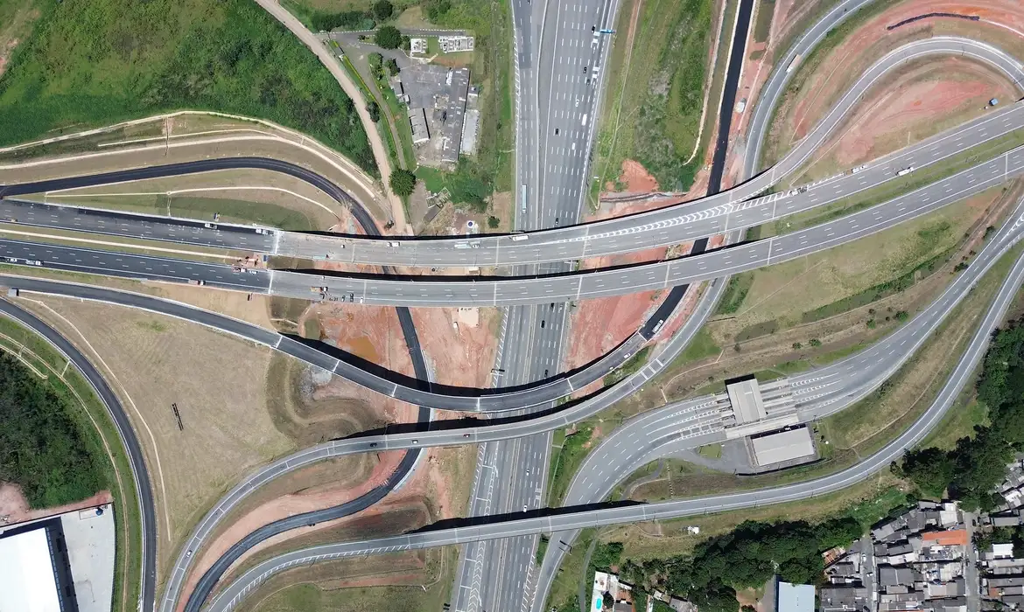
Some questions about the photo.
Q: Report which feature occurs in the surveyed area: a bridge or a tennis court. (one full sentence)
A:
I can see a bridge in this picture.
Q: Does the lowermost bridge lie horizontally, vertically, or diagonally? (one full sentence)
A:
What the image shows is the lowermost bridge lying horizontally.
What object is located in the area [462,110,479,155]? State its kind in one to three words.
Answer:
shed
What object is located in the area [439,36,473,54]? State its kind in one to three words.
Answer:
house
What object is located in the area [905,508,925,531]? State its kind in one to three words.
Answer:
house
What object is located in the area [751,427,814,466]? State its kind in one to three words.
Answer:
building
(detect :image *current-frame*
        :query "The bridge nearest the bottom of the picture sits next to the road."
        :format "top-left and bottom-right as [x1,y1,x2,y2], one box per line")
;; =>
[408,505,643,550]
